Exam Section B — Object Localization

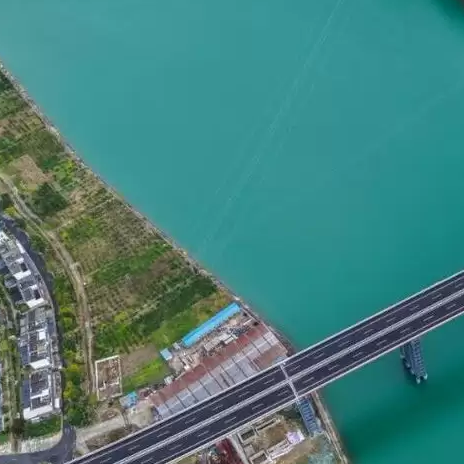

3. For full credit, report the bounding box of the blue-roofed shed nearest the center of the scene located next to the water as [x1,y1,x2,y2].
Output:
[182,302,243,349]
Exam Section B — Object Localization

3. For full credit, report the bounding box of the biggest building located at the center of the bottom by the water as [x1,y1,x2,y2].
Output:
[148,321,293,417]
